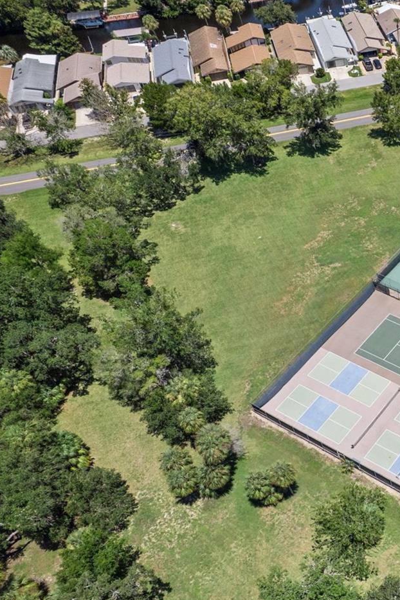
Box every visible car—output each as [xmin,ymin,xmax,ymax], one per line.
[372,56,383,67]
[362,55,373,68]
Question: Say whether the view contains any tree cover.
Yes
